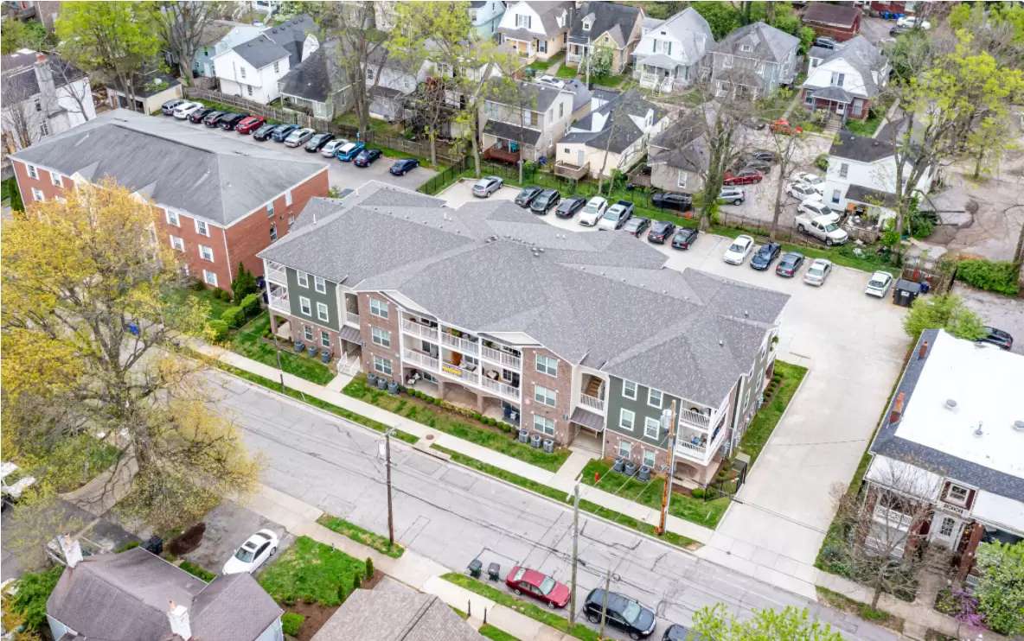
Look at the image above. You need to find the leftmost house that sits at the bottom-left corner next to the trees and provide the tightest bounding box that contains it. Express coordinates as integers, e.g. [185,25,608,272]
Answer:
[39,542,284,641]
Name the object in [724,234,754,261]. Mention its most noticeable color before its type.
white car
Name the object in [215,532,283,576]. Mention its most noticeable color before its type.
white car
